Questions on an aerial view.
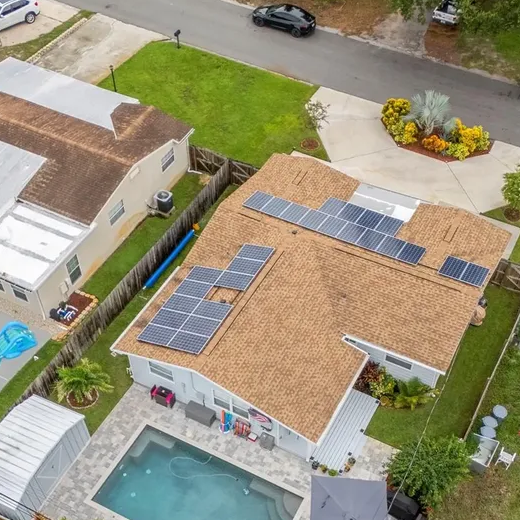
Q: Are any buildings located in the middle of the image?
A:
Yes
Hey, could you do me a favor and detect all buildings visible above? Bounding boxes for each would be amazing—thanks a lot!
[0,51,197,321]
[0,390,91,520]
[108,152,514,459]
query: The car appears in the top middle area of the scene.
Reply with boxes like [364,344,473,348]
[252,4,320,37]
